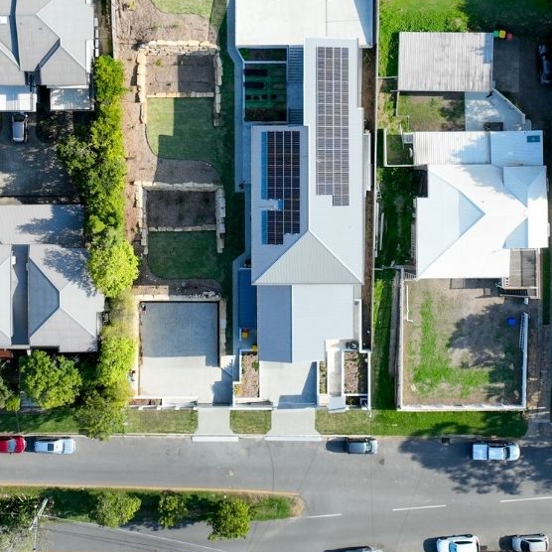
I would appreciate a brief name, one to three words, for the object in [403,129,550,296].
house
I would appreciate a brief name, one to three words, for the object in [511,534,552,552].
car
